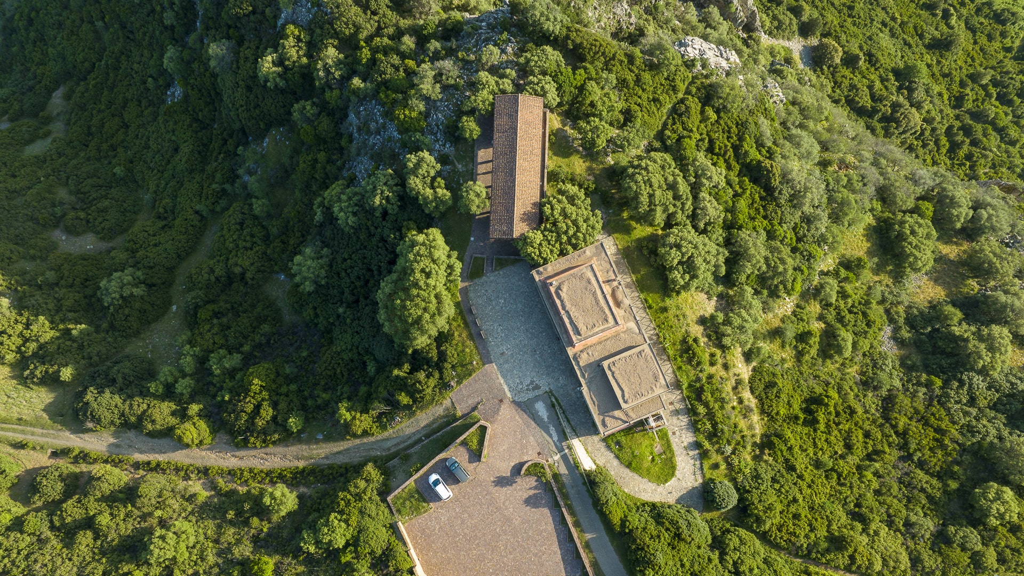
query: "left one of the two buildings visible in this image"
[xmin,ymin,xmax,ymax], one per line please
[488,93,544,238]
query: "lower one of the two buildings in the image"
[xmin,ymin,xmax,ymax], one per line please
[528,243,676,437]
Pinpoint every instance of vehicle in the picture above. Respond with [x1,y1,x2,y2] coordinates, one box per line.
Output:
[447,455,471,486]
[430,472,453,503]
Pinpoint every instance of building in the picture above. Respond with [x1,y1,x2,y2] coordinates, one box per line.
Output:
[528,243,676,437]
[488,93,544,238]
